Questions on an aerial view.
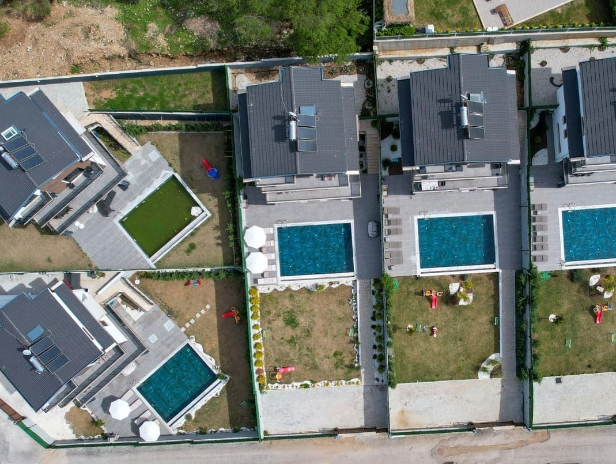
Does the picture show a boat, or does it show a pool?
pool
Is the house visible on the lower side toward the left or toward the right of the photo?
left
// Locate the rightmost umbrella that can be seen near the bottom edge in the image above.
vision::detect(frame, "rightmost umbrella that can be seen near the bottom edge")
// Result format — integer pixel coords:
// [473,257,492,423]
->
[138,420,161,441]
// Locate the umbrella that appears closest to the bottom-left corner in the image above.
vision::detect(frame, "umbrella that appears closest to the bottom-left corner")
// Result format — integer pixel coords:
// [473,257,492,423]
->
[109,398,131,420]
